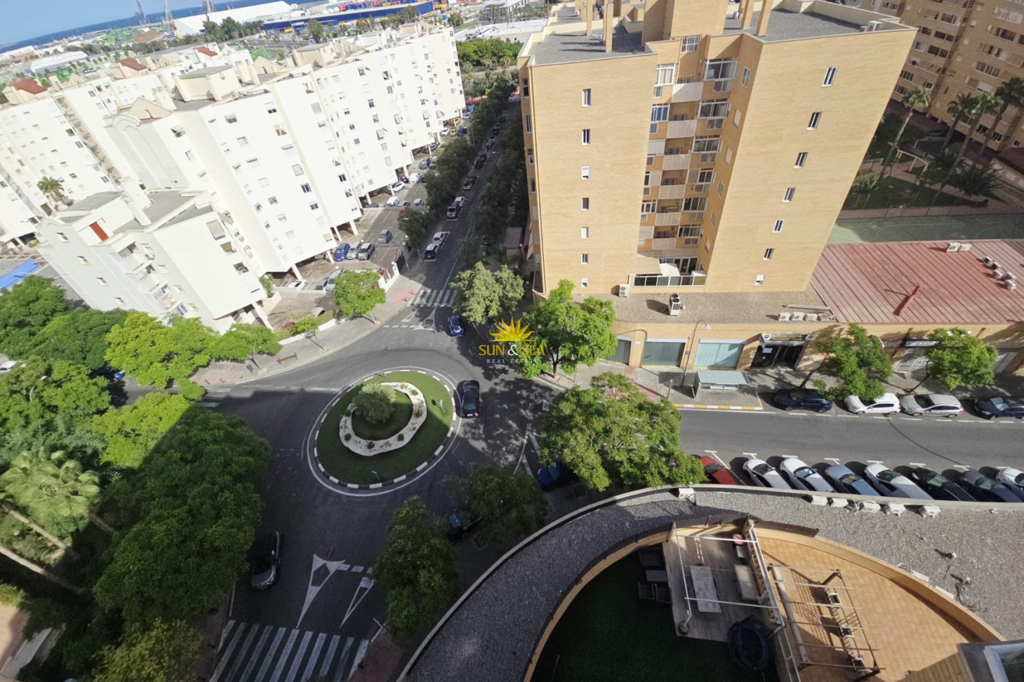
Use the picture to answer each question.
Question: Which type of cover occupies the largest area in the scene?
buildings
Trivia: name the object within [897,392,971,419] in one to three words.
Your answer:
car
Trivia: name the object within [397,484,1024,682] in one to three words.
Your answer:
building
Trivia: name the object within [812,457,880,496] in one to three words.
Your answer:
car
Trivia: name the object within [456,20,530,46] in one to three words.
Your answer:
building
